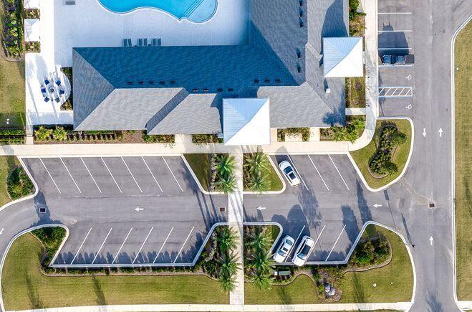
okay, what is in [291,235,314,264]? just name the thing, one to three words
car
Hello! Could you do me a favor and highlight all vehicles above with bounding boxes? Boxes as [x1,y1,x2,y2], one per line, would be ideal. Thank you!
[291,235,314,264]
[278,159,299,187]
[380,52,415,66]
[273,235,294,262]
